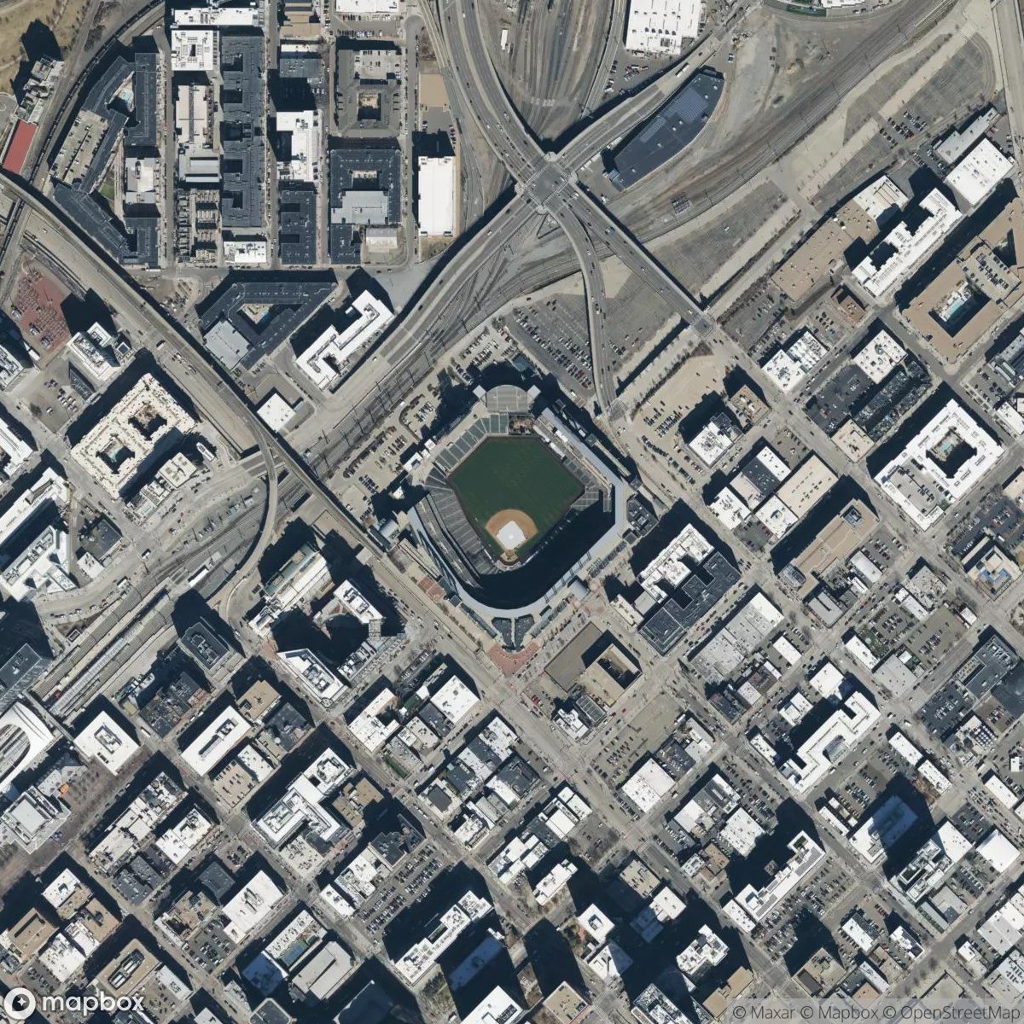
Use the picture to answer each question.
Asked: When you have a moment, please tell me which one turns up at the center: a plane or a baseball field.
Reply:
baseball field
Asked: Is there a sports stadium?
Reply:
Yes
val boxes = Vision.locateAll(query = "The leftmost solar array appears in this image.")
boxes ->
[641,116,665,141]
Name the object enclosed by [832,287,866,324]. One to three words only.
house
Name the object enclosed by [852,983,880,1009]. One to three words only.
building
